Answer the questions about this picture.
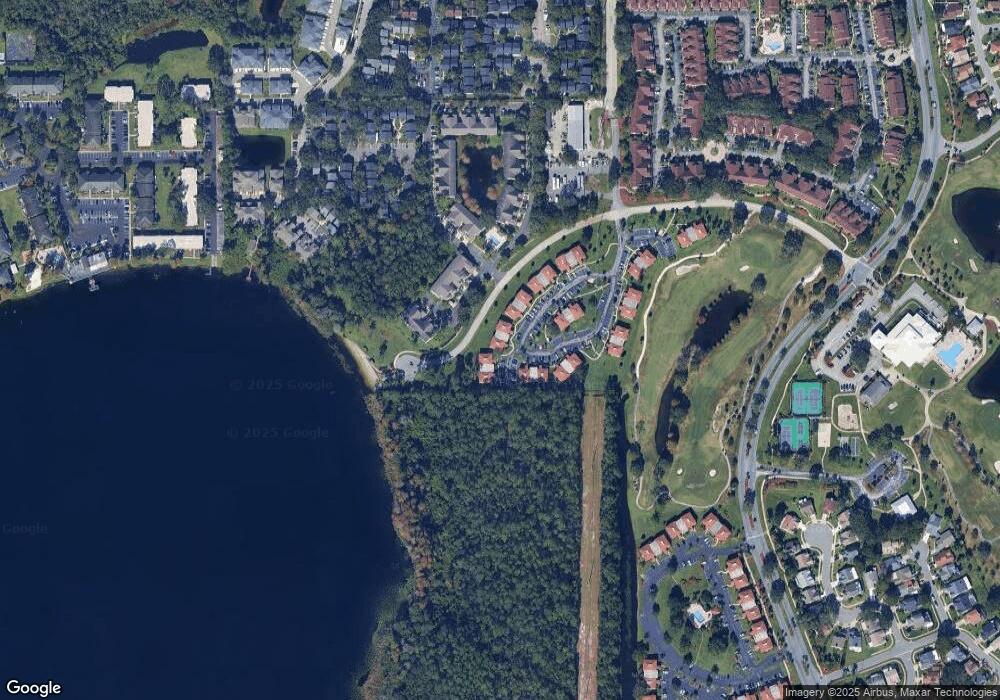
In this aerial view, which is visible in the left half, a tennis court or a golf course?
tennis court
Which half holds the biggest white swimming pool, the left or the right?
right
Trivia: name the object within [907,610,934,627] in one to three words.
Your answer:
house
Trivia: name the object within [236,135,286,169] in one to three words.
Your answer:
pond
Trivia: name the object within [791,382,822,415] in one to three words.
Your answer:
tennis court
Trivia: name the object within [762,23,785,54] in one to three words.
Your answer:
swimming pool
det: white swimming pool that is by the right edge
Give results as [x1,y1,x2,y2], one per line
[932,327,981,378]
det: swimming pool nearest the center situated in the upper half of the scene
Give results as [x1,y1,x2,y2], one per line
[486,226,506,248]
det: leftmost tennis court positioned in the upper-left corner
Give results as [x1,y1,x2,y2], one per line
[5,32,36,61]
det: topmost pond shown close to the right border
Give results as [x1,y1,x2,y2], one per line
[951,186,1000,263]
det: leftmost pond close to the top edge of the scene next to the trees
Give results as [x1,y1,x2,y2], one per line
[116,30,208,68]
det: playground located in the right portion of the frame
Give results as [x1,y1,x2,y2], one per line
[838,405,858,430]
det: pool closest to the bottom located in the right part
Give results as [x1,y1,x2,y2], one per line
[688,604,711,627]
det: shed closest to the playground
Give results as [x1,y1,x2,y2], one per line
[860,375,892,405]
